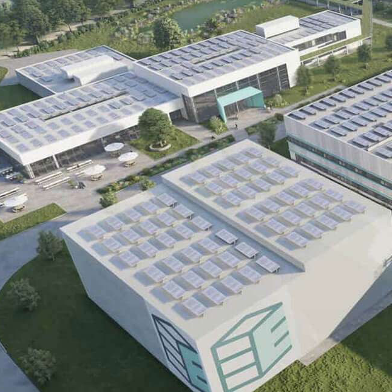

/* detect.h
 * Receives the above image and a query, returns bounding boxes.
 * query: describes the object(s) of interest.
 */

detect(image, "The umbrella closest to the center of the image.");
[115,151,141,166]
